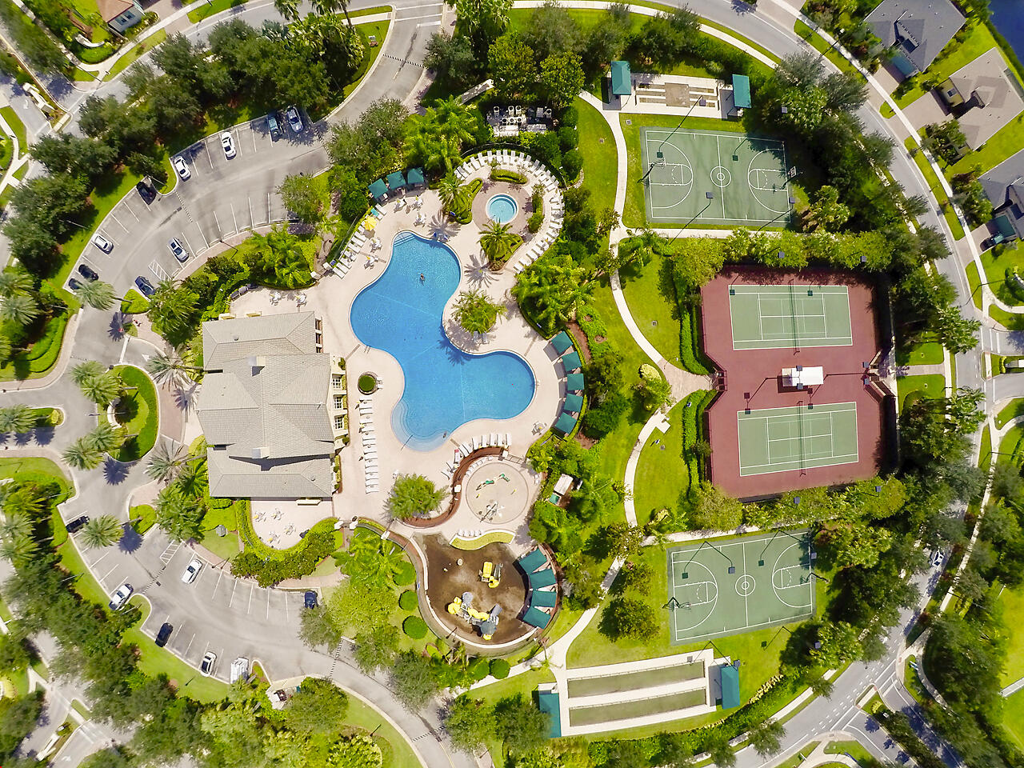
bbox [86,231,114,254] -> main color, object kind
white car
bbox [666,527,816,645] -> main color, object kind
green basketball court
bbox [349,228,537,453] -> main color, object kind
blue swimming pool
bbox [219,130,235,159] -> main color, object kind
white car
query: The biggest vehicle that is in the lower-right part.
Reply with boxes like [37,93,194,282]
[930,545,949,572]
